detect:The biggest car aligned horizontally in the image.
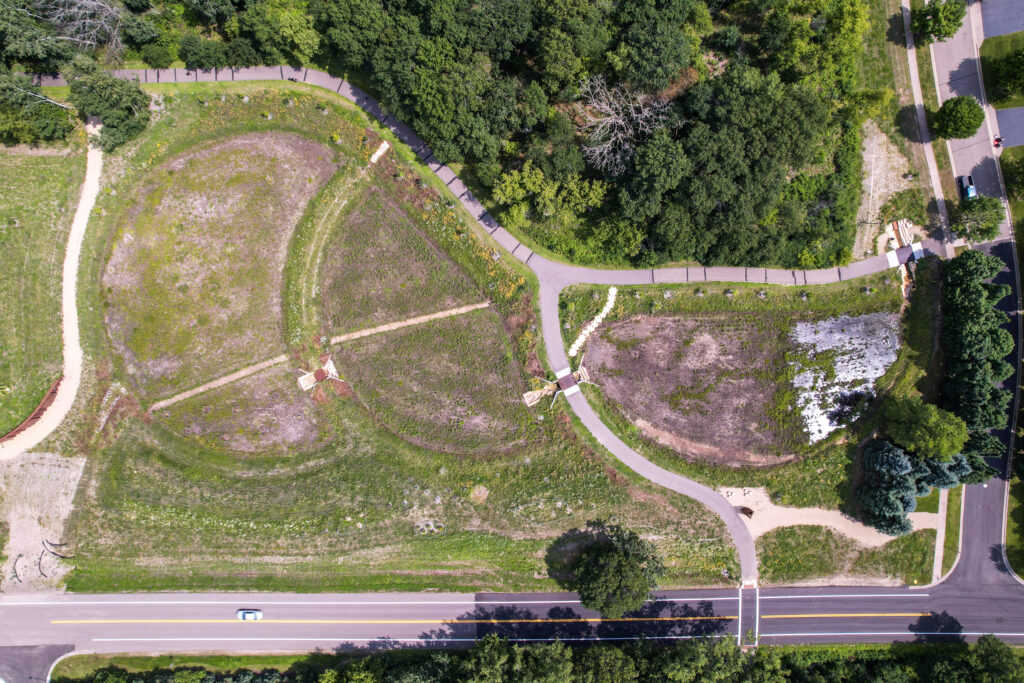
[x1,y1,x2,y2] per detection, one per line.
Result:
[236,609,262,621]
